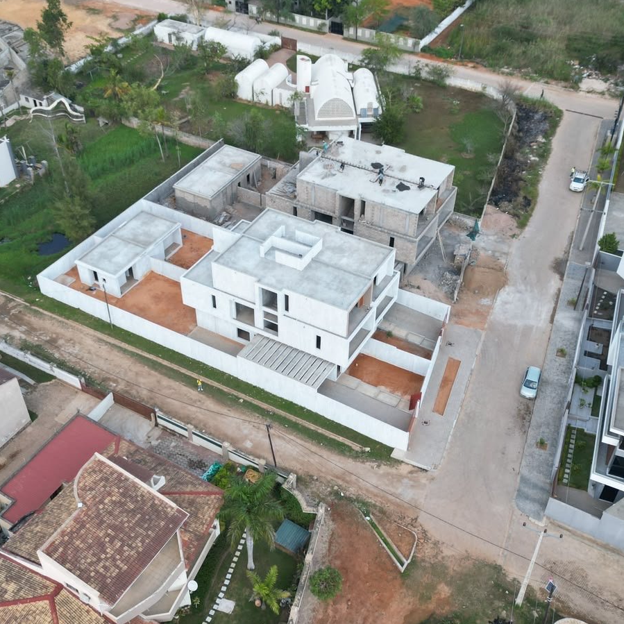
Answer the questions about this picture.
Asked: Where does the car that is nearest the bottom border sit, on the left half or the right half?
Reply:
right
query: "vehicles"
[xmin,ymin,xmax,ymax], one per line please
[520,364,543,398]
[570,170,587,194]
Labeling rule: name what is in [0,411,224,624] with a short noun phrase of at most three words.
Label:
house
